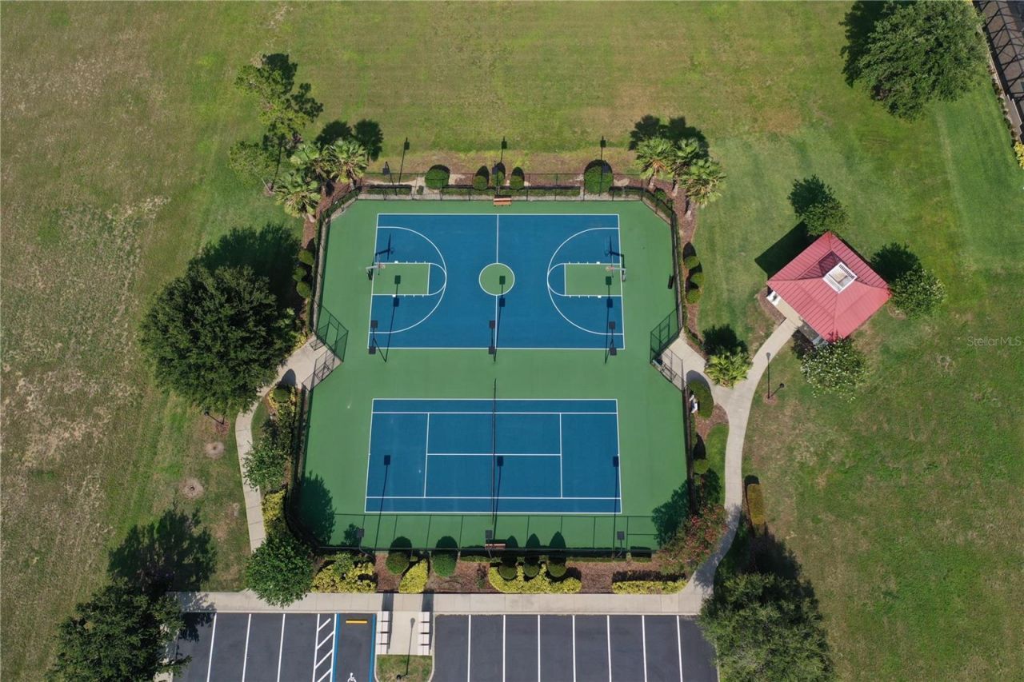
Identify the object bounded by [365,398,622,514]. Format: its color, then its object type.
blue tennis court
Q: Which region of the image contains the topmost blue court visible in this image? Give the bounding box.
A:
[368,213,625,349]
